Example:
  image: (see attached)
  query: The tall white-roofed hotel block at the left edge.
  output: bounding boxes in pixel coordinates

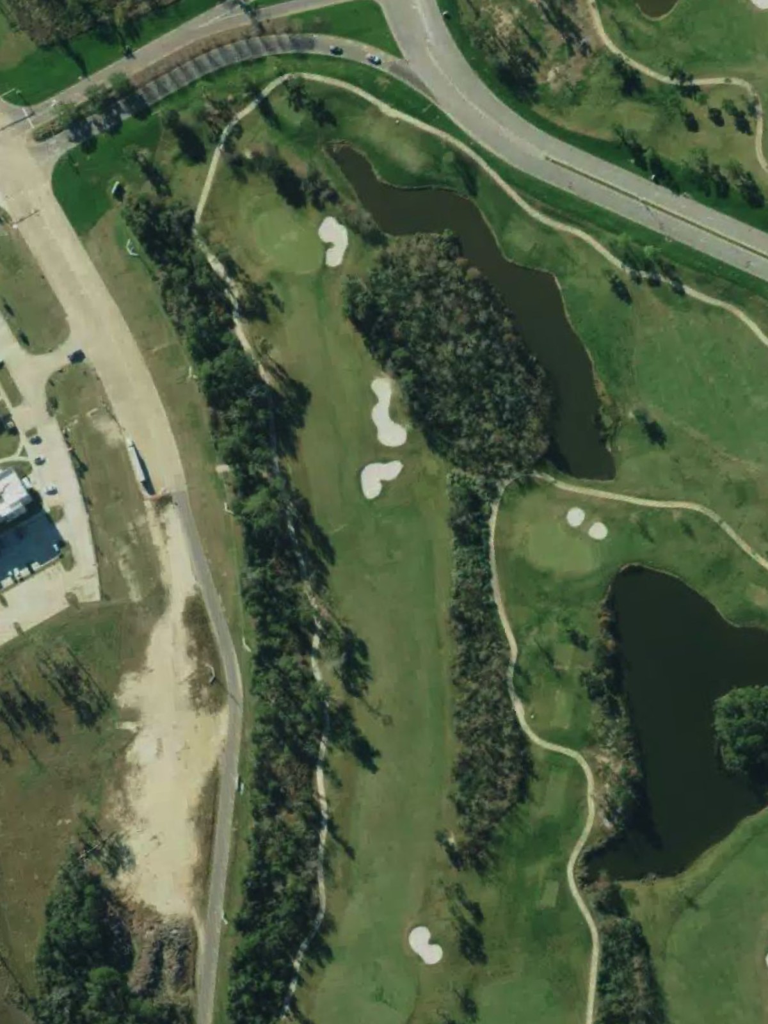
[0,469,31,521]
